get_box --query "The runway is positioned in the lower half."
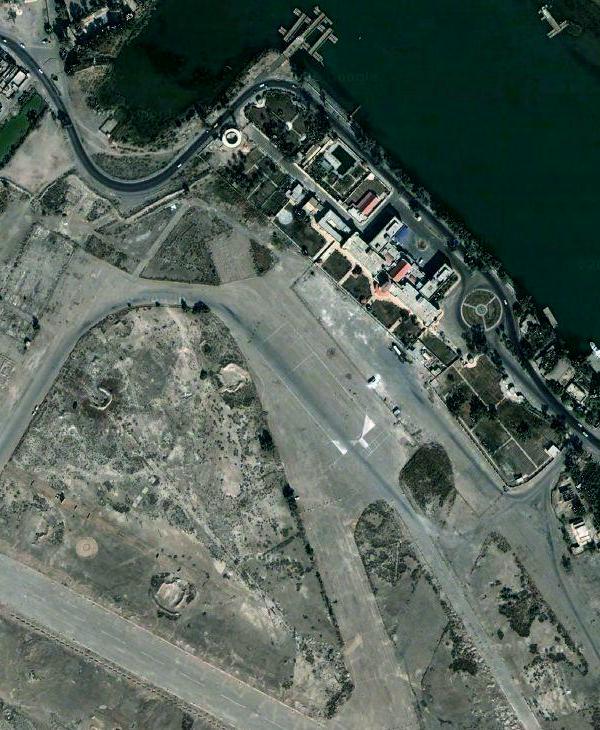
[0,556,340,730]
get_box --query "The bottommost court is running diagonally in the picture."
[420,331,460,366]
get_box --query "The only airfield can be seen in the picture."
[0,250,571,730]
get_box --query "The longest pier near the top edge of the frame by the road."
[260,6,332,78]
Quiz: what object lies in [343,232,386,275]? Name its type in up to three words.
building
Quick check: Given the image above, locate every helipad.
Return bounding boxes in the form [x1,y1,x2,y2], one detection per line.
[76,536,98,557]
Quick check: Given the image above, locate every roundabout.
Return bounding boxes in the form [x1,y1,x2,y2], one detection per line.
[460,289,502,331]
